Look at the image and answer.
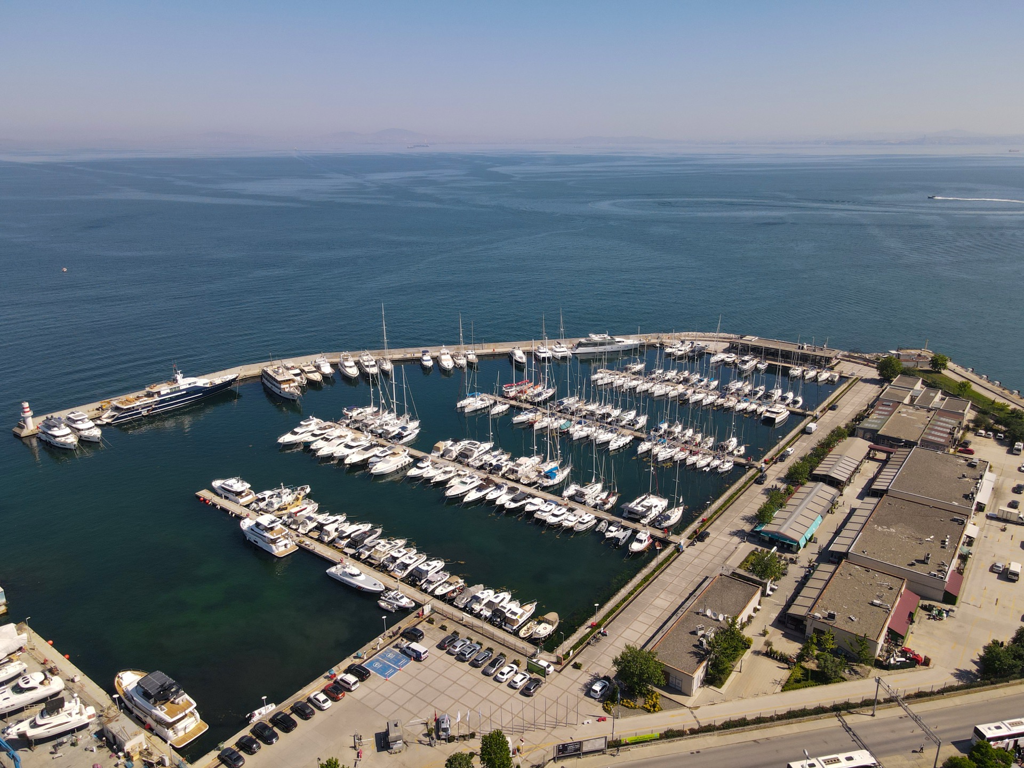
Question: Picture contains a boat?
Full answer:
Yes, I can see a boat in this picture.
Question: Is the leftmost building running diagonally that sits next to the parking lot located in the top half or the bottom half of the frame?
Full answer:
It is in the bottom half that the leftmost building running diagonally that sits next to the parking lot appears.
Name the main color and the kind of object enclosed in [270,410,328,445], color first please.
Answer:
white boat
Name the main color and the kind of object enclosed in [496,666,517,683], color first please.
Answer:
white car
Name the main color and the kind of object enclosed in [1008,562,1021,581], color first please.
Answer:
white vehicle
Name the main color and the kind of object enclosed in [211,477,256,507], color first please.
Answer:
white boat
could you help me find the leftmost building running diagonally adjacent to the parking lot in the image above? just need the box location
[647,574,761,694]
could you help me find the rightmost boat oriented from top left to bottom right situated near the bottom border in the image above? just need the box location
[110,671,220,760]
